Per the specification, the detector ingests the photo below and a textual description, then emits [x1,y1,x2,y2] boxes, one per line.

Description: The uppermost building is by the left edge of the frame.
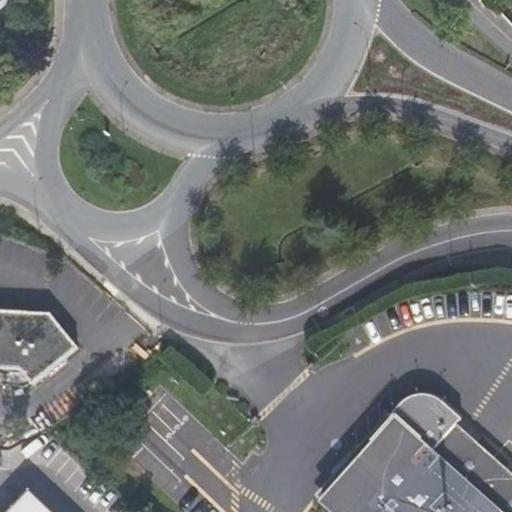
[0,310,78,385]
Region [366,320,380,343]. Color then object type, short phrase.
white car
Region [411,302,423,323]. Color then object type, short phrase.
white vehicle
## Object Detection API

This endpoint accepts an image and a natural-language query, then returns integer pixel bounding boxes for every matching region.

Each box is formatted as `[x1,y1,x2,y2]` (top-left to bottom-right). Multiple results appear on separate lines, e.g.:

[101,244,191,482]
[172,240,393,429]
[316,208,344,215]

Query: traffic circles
[70,0,374,152]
